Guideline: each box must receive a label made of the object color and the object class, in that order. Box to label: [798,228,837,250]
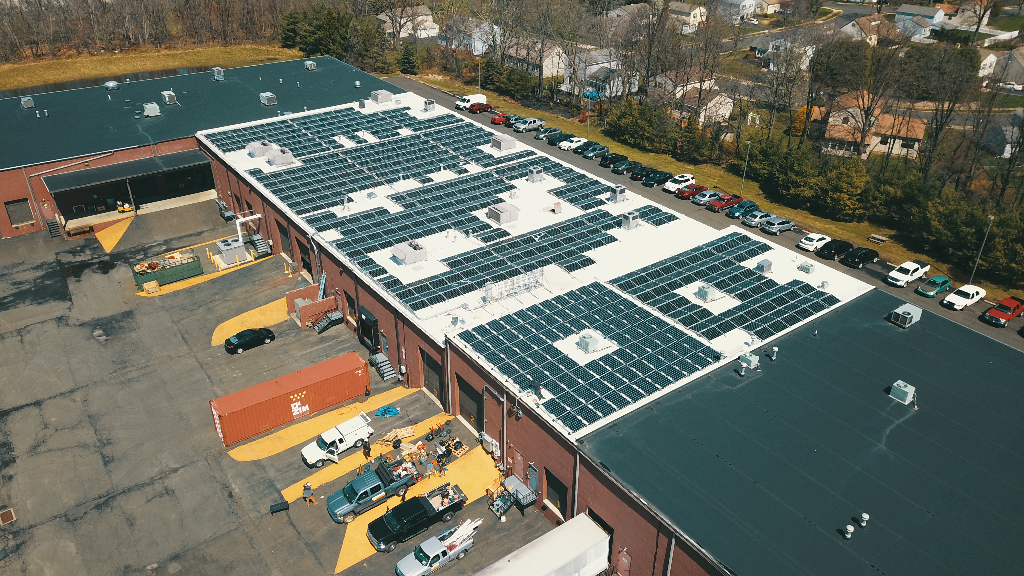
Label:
white car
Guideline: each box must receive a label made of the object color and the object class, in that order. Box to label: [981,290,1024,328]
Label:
red truck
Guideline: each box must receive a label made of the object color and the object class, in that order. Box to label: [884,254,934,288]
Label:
white truck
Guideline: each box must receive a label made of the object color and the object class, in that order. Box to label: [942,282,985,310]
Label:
white car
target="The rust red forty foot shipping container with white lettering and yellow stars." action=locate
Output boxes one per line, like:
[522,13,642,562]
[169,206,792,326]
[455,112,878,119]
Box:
[210,351,370,445]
